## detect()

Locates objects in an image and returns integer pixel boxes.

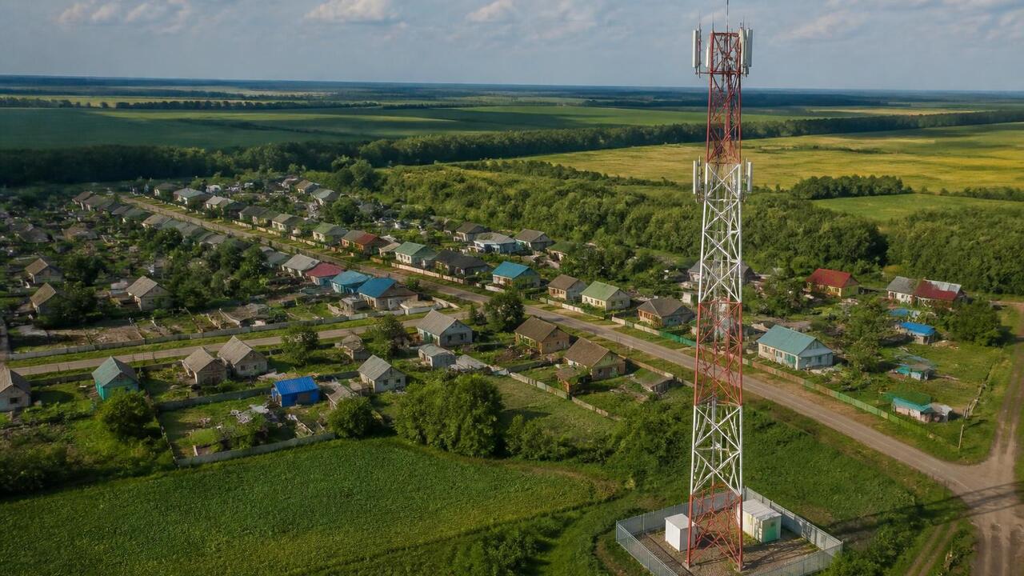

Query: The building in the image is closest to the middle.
[491,258,542,287]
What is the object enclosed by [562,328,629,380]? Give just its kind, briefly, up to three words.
house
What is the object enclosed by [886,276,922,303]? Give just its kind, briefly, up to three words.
house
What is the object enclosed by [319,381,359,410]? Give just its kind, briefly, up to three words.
shed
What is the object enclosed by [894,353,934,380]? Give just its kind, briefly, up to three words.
shed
